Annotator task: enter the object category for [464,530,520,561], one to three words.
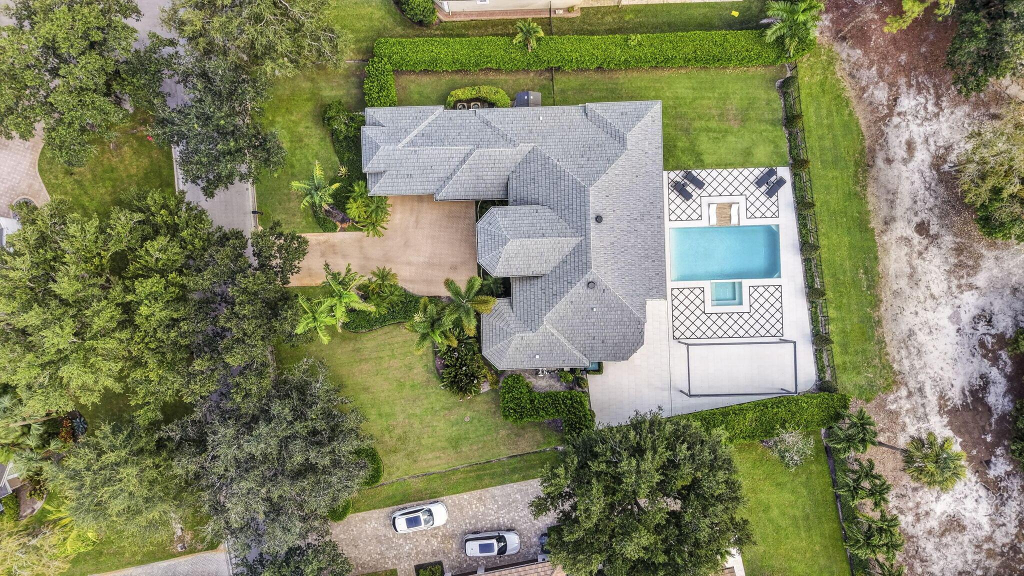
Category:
car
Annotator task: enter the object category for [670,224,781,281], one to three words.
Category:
swimming pool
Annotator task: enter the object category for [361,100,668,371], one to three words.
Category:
house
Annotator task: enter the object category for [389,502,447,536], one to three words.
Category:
car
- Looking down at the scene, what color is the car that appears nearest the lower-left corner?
white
